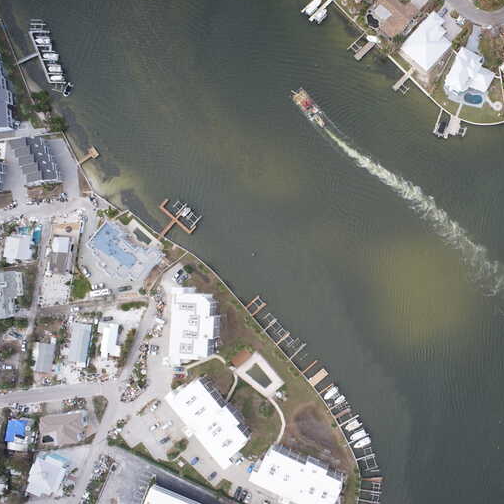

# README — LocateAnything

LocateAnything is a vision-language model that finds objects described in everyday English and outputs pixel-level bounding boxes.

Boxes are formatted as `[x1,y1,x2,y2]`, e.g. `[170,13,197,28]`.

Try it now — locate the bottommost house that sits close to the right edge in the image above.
[446,47,495,92]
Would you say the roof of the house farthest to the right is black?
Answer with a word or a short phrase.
No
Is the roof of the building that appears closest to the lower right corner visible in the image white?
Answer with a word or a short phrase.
Yes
